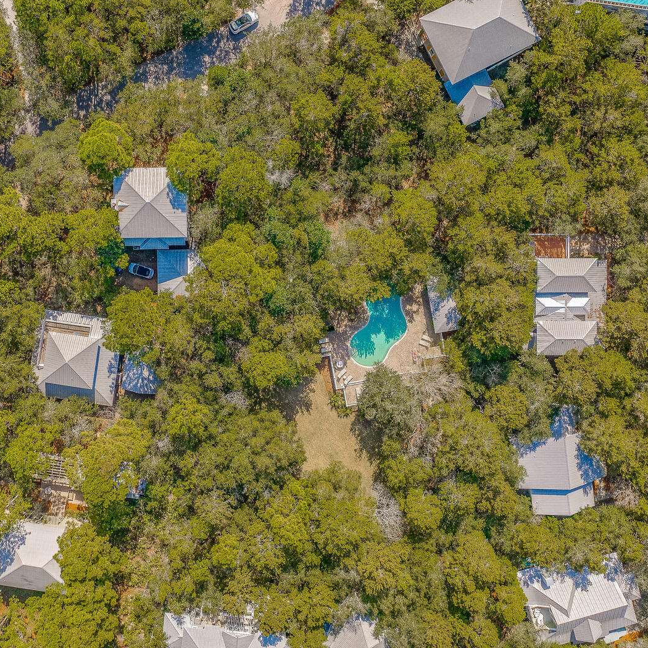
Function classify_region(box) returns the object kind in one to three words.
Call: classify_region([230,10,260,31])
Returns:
car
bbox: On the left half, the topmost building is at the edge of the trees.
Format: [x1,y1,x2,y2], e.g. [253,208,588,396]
[110,167,190,249]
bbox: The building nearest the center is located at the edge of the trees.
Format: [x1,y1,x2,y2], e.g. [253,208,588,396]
[424,276,458,333]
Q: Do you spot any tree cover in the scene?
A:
Yes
